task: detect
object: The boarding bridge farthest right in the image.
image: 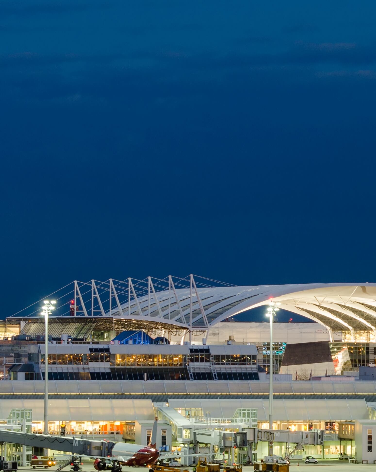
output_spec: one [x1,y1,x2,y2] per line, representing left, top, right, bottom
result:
[252,424,332,465]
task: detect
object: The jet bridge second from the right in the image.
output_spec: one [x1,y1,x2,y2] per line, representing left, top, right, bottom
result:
[194,431,251,466]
